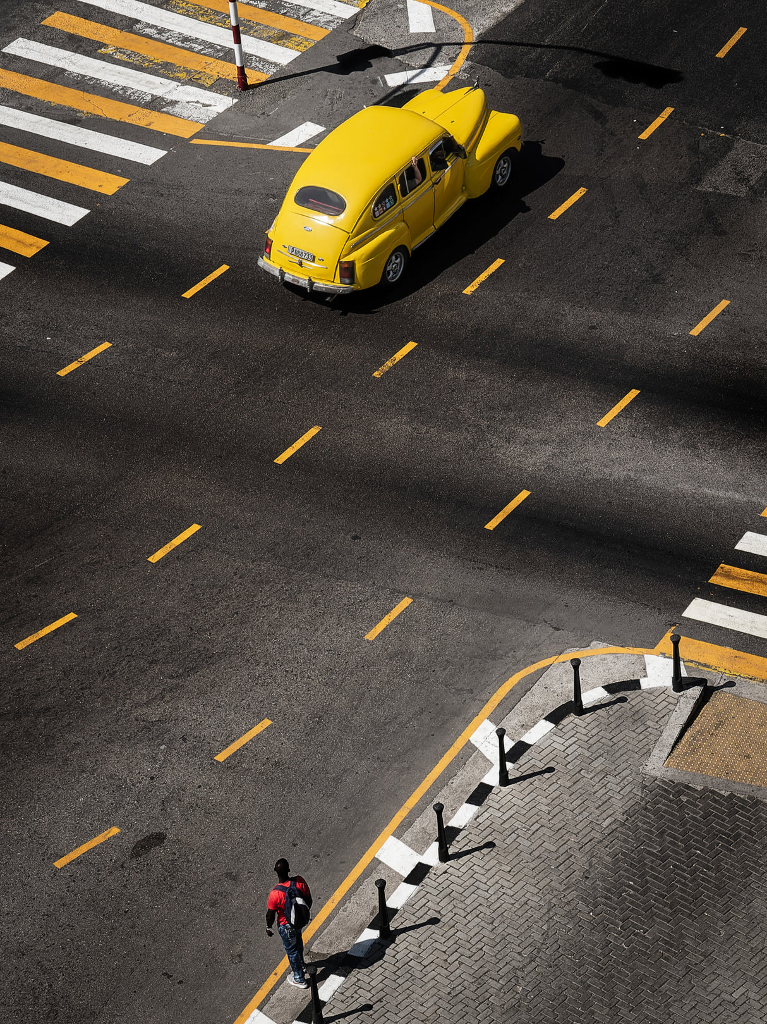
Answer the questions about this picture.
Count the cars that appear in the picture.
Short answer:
1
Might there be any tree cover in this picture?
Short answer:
No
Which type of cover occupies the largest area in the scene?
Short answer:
paved ground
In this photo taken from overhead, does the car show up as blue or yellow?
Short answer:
yellow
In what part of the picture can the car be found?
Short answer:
top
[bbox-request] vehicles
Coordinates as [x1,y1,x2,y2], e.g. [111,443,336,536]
[255,75,529,306]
